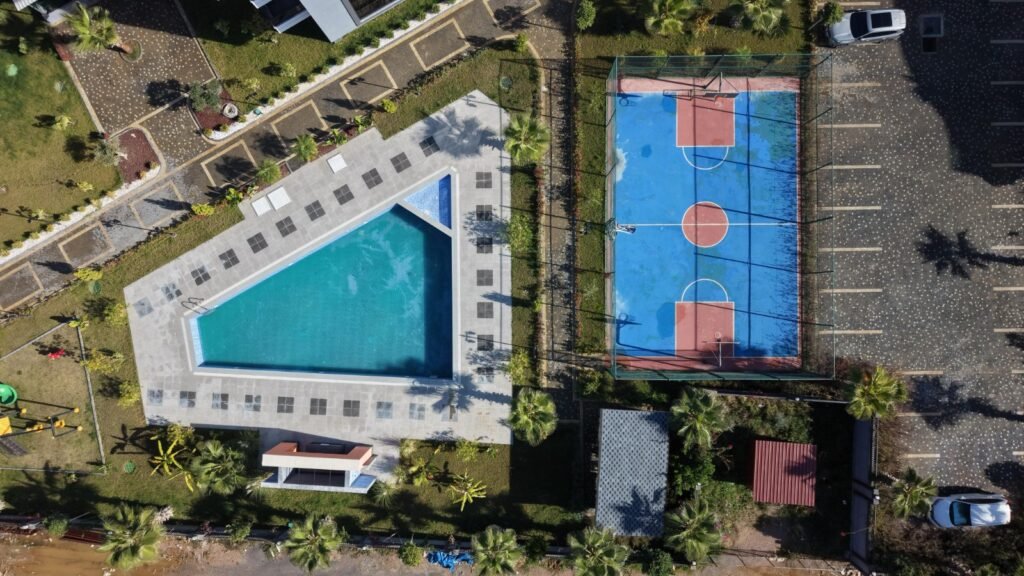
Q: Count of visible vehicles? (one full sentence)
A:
My tally gives 2 vehicles in this view.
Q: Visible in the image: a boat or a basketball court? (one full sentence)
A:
This aerial view contains a basketball court.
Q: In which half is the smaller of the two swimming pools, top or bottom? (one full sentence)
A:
Seen from above, the smaller of the two swimming pools lies in the top half of the view.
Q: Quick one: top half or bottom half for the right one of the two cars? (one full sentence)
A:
Seen from above, the right one of the two cars lies in the bottom half of the view.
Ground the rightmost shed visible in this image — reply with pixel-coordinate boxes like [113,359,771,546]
[746,437,816,506]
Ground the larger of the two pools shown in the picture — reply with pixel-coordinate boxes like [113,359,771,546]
[180,167,458,388]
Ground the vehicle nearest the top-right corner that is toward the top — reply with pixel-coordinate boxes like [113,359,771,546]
[825,7,904,46]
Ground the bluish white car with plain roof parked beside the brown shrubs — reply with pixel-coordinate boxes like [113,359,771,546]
[927,492,1008,531]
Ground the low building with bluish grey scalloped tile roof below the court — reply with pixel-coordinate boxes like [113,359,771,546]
[593,403,668,538]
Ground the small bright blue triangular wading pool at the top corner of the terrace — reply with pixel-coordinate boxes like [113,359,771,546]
[405,175,450,228]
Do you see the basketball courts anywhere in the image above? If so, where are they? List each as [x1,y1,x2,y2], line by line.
[609,78,802,370]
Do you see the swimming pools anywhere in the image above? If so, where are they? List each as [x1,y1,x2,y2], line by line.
[405,175,450,228]
[180,167,458,388]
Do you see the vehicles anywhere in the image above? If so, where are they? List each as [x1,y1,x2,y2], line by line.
[825,7,904,46]
[927,492,1008,531]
